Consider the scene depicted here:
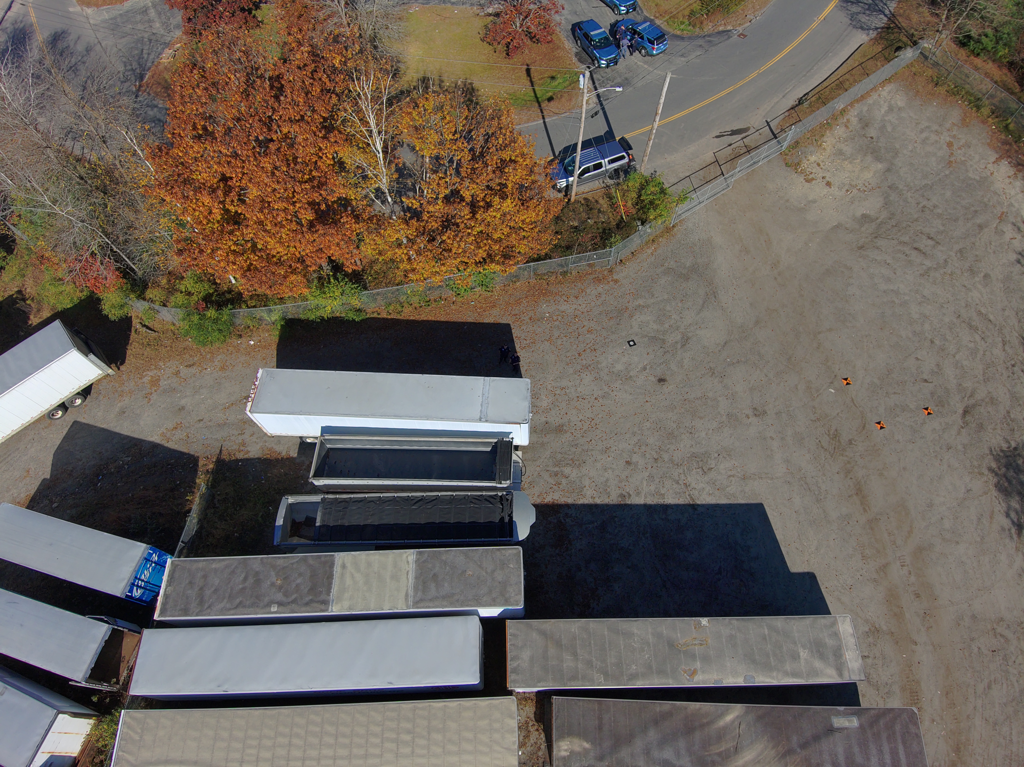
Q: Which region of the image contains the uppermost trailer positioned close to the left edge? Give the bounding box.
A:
[0,318,122,448]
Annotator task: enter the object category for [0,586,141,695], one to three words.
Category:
trailer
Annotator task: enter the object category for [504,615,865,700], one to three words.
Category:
trailer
